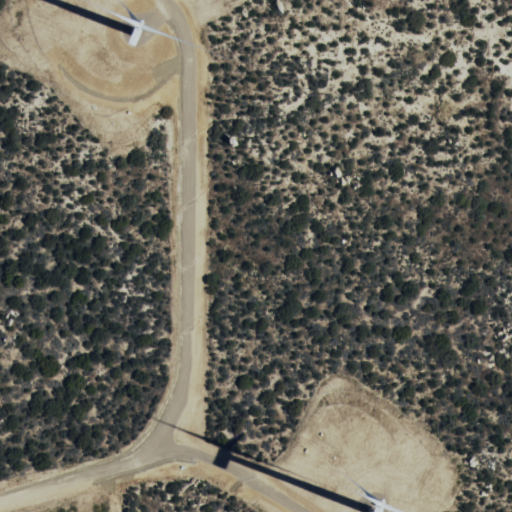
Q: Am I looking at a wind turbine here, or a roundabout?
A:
wind turbine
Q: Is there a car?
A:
No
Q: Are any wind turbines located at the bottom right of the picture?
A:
Yes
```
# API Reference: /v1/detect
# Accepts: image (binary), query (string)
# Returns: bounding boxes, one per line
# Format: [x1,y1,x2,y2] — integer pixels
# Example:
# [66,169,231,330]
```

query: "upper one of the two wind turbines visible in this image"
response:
[96,4,206,48]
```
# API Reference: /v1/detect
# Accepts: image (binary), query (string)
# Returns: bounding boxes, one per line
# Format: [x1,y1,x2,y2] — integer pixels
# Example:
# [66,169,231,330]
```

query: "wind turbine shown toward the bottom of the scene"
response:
[347,473,406,512]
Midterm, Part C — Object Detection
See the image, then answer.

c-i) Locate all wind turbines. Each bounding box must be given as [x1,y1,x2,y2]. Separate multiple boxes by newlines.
[347,473,406,512]
[96,4,206,48]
